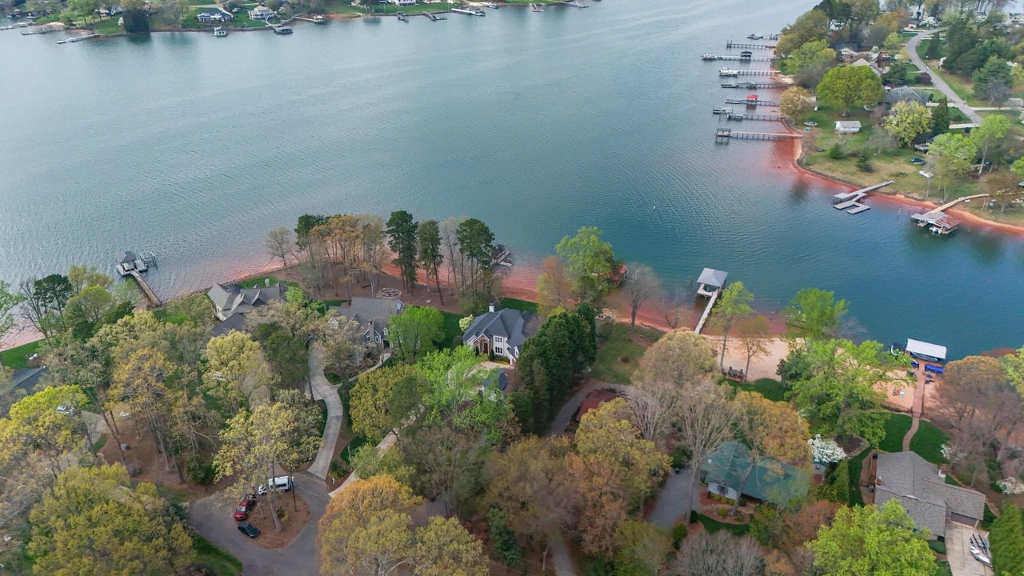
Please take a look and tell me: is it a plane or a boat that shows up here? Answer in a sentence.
The one in the frame is a boat.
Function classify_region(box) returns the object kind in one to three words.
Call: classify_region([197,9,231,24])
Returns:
house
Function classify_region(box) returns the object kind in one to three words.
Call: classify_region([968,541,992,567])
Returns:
boat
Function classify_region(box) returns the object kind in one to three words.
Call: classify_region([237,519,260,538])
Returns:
car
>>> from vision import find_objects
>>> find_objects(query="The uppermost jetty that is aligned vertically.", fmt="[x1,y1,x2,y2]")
[694,268,728,335]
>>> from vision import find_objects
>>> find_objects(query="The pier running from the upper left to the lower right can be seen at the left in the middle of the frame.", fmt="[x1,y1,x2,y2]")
[115,250,166,311]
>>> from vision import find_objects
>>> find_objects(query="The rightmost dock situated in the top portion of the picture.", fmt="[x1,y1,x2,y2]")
[907,193,986,239]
